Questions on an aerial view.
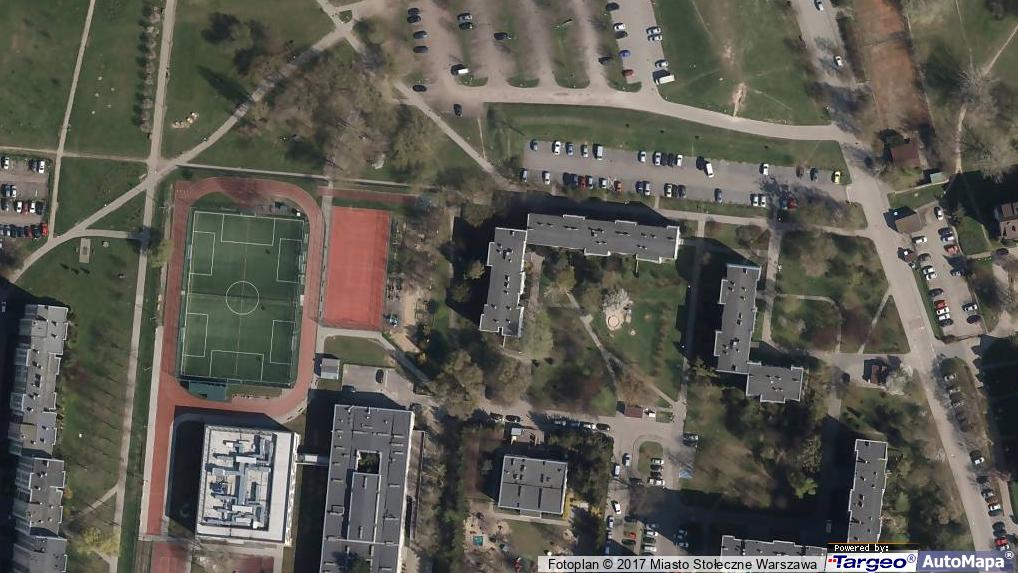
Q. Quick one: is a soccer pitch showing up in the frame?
Yes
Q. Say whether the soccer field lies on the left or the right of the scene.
left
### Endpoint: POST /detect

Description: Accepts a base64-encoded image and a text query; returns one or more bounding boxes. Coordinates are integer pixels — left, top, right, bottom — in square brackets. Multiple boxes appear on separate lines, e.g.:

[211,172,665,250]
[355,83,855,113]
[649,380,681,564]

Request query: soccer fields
[177,208,308,385]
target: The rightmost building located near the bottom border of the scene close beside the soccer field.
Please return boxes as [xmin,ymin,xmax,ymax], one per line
[319,404,415,573]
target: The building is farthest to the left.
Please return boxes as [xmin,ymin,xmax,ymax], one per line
[8,305,72,573]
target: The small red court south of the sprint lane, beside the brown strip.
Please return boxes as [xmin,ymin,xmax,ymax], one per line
[151,542,192,573]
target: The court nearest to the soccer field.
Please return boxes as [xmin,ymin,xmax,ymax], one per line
[323,207,390,330]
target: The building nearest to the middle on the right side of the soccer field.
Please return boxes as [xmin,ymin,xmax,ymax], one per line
[480,228,529,338]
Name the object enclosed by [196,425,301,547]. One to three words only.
building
